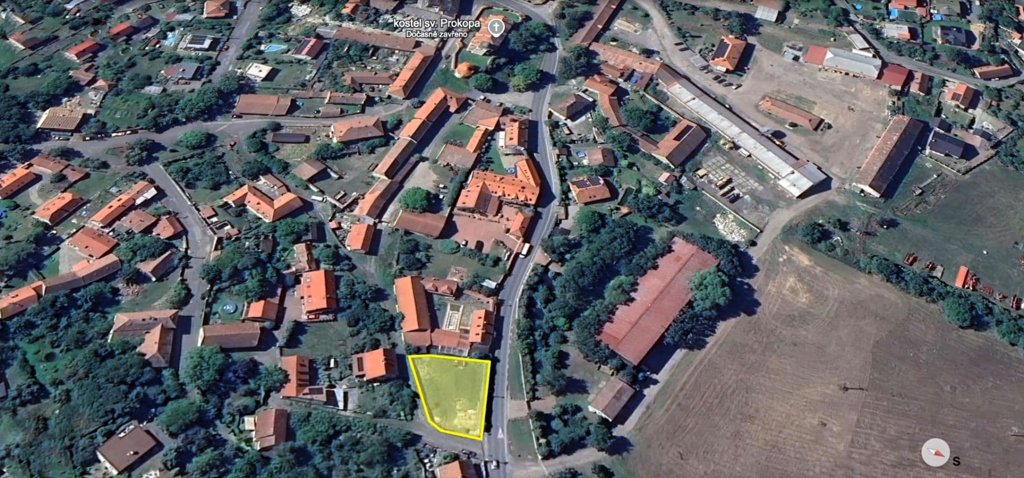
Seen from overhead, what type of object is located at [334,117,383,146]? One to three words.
house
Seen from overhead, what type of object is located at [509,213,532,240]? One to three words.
shed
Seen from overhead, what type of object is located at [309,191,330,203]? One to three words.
vehicle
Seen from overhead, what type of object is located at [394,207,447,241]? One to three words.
barn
